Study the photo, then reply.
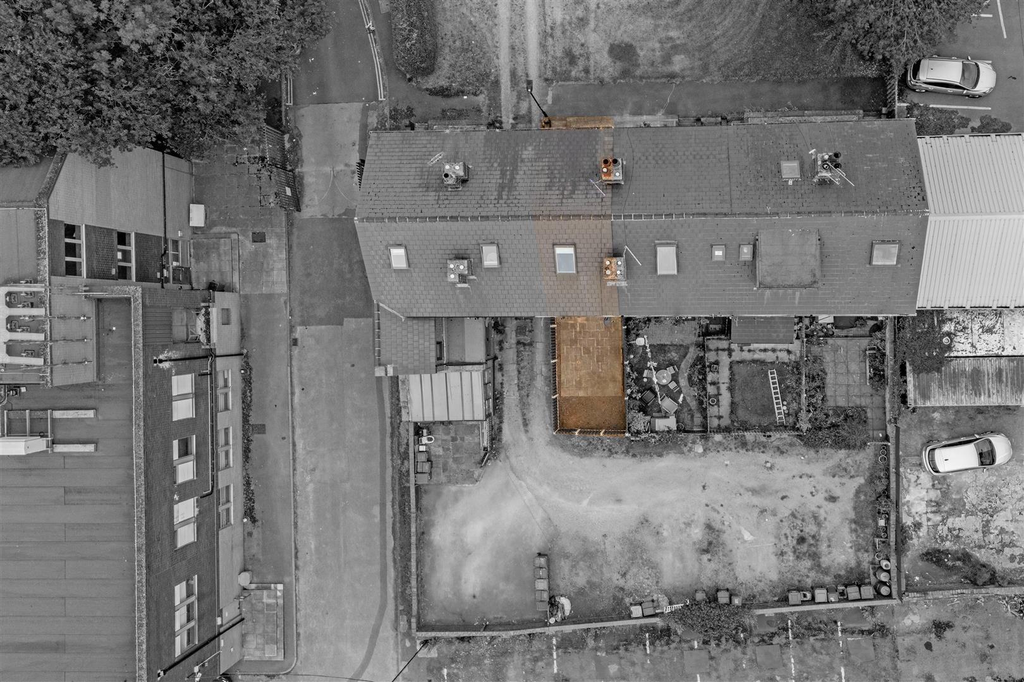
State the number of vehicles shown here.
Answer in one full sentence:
The picture shows 2 vehicles.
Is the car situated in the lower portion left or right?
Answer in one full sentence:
The car situated in the lower portion appears in the right half of the scene.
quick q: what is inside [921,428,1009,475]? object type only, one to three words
car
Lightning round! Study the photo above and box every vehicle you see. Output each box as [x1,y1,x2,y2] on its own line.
[905,54,993,100]
[921,428,1009,475]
